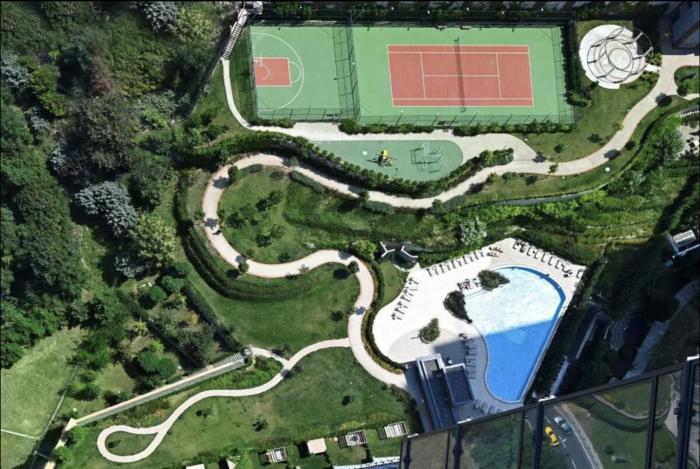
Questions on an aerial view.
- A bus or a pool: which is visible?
pool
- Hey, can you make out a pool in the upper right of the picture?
No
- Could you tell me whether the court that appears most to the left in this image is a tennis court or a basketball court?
basketball court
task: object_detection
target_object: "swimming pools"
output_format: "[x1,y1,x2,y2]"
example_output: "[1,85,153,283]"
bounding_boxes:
[462,263,567,406]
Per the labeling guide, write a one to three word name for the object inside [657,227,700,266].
building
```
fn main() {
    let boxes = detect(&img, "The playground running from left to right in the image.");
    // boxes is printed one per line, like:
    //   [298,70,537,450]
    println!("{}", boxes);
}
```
[308,139,463,186]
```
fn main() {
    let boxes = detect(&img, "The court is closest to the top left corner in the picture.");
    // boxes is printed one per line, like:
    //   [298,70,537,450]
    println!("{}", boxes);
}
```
[252,25,355,120]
